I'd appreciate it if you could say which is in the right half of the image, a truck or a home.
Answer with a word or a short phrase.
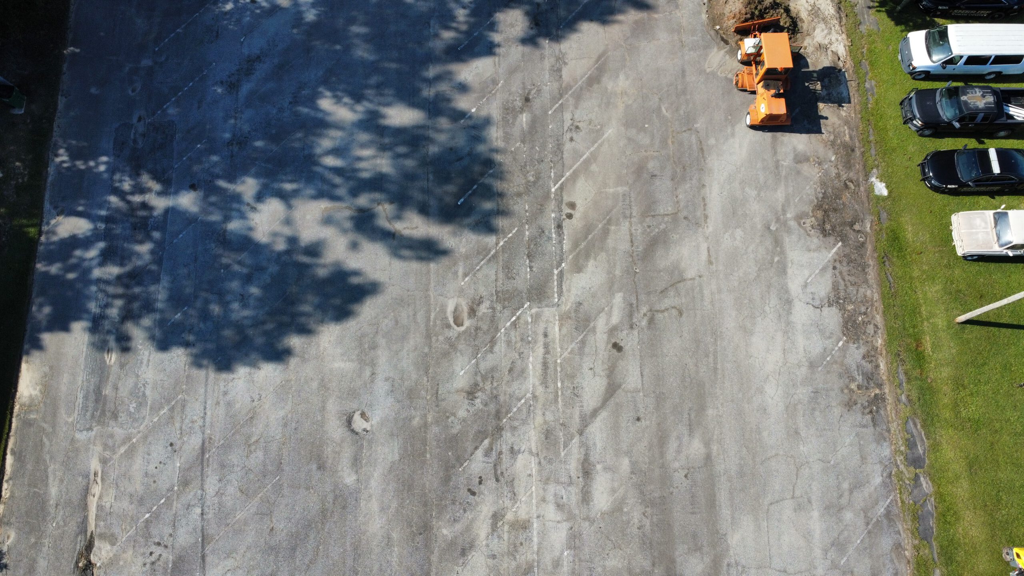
truck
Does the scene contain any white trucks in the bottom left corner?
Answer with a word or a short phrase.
No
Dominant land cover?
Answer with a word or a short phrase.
paved ground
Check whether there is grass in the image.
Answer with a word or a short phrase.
Yes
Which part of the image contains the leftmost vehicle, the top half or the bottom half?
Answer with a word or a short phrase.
top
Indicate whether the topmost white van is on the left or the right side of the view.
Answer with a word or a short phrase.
right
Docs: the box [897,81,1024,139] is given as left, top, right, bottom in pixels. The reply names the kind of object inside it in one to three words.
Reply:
truck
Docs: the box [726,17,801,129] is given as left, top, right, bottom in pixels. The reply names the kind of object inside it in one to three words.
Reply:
vehicle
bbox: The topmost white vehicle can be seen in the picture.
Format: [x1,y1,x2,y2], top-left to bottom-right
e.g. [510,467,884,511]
[897,22,1024,81]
